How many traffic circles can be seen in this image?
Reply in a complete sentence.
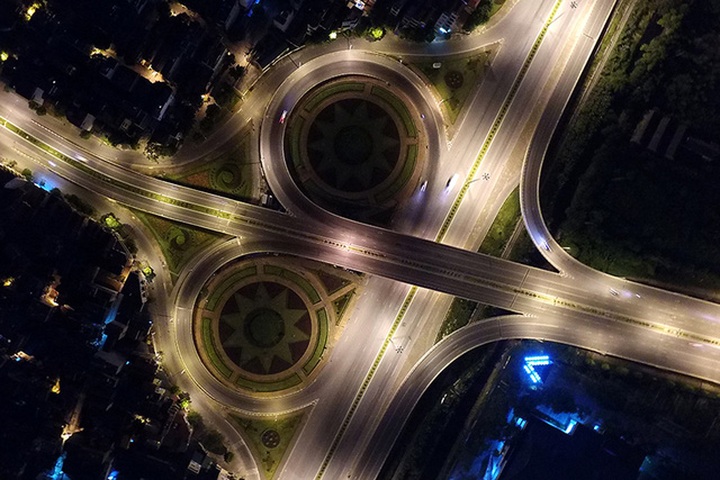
Looking from above, you can make out 2 traffic circles.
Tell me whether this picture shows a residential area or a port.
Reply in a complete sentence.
The picture captures a residential area.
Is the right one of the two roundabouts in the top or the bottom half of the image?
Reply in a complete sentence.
The right one of the two roundabouts sits in the top half of the picture.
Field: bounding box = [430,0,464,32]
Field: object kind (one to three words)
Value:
house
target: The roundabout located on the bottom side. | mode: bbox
[193,258,365,396]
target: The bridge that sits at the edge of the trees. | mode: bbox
[0,103,720,363]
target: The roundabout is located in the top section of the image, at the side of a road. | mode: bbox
[285,78,427,228]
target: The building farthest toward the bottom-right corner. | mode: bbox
[485,408,650,480]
